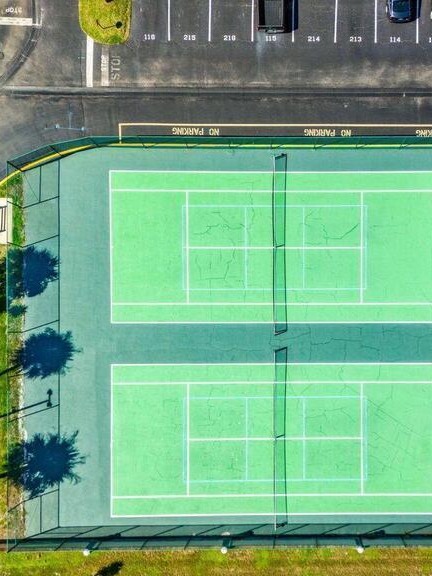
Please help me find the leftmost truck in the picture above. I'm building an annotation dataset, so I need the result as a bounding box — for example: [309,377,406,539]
[259,0,286,29]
